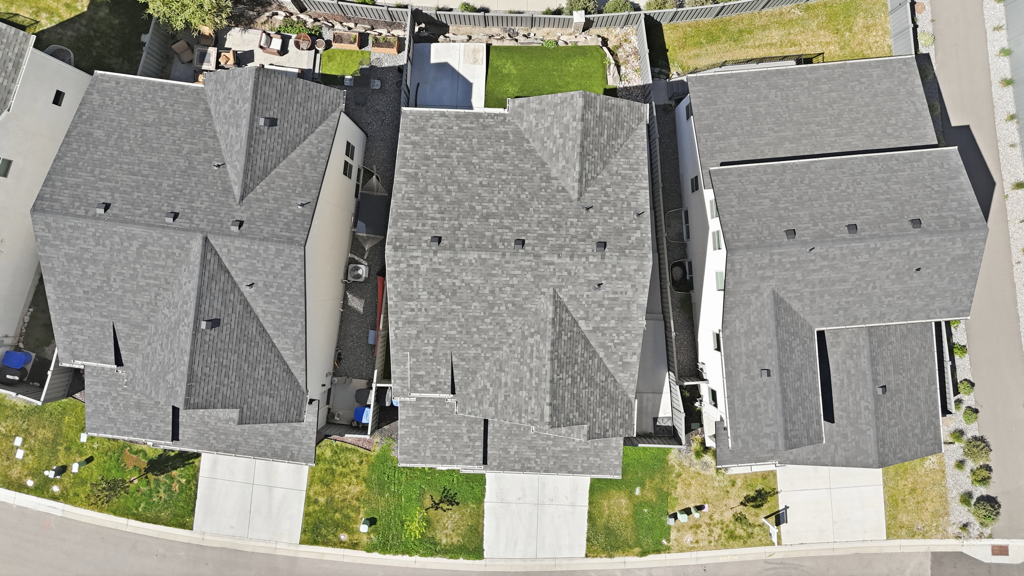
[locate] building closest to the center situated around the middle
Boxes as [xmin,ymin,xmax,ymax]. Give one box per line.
[388,91,655,480]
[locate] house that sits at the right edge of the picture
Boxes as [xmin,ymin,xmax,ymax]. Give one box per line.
[676,52,990,469]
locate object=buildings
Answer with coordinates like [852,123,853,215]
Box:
[676,52,990,469]
[388,91,655,480]
[37,66,365,471]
